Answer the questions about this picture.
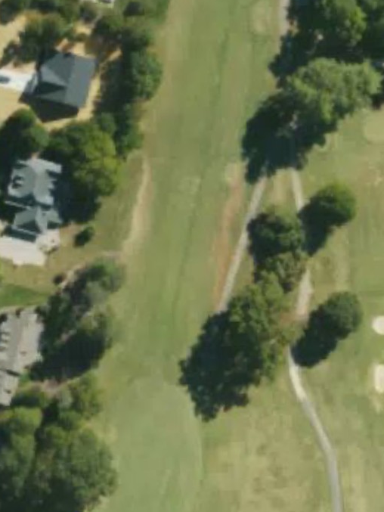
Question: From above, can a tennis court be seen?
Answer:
No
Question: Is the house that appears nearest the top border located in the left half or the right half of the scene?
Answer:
left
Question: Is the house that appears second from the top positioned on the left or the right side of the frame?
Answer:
left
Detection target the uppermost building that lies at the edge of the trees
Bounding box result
[27,48,89,118]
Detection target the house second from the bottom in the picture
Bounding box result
[0,156,63,236]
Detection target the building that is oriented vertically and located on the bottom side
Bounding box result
[0,305,45,409]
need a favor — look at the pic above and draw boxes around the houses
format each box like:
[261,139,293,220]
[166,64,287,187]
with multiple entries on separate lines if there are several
[0,156,63,236]
[0,305,45,409]
[27,48,89,118]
